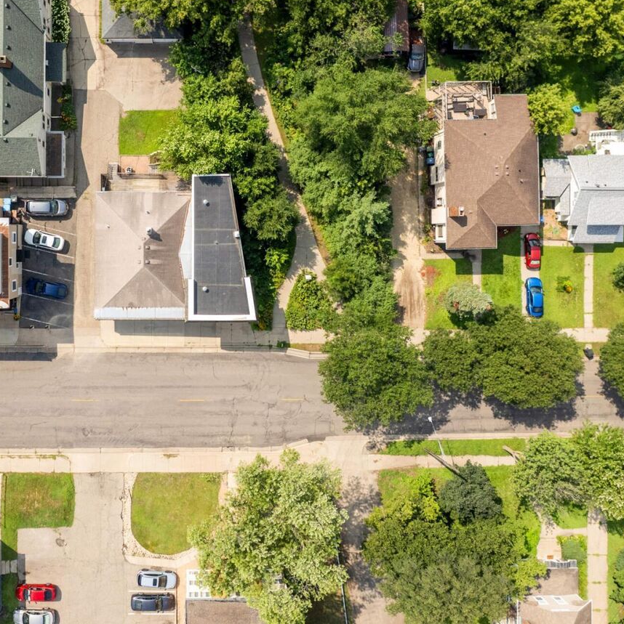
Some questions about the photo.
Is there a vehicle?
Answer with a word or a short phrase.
Yes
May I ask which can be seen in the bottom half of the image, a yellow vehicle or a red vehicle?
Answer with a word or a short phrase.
red vehicle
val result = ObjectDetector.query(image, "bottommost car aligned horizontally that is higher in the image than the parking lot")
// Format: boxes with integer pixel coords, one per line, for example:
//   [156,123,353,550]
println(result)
[26,277,68,298]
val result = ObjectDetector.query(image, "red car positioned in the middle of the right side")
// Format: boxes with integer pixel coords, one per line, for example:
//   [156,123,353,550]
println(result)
[523,231,543,269]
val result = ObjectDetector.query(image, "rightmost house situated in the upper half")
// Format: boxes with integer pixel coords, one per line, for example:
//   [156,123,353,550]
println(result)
[536,156,624,243]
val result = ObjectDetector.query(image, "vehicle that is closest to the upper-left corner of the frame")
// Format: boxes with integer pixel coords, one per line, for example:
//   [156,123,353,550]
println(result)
[25,198,67,217]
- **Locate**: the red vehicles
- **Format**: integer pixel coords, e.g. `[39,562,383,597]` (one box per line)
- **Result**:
[16,582,57,604]
[523,231,543,269]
